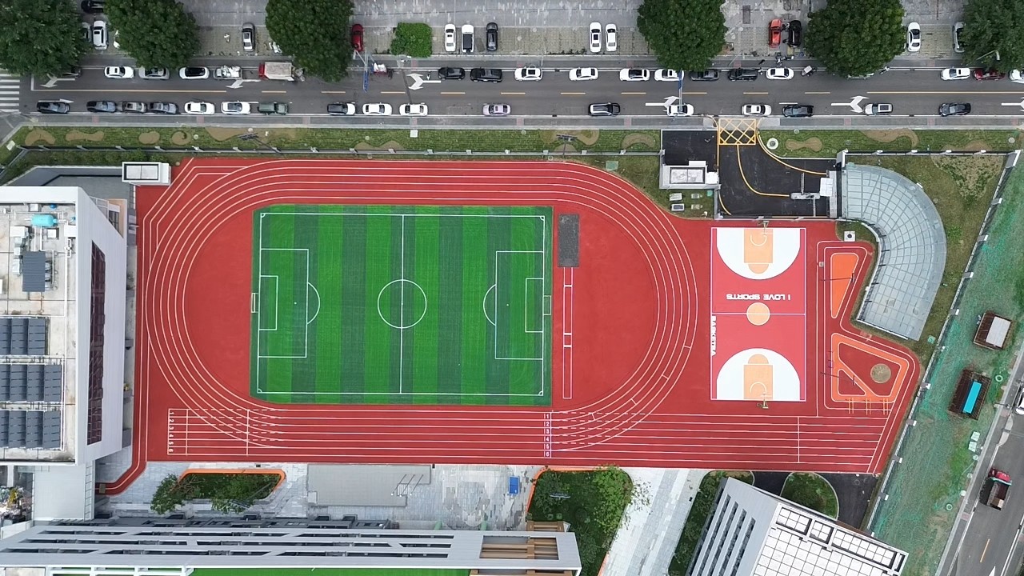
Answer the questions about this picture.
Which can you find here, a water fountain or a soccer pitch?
soccer pitch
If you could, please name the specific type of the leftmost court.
basketball court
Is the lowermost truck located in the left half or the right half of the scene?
right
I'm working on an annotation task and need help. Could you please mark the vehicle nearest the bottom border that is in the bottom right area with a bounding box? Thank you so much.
[981,465,1018,511]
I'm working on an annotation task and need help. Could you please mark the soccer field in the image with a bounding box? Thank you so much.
[251,205,553,406]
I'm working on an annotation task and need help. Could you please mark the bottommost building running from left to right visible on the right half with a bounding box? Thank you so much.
[683,478,908,576]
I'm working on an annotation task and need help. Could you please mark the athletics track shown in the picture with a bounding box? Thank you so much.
[95,158,921,495]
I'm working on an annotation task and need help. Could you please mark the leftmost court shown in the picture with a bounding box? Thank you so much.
[711,228,807,401]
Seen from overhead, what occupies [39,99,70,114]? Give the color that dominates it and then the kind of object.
black car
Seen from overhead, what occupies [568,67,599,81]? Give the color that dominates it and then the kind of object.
white car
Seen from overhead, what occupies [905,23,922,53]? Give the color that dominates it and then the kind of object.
white car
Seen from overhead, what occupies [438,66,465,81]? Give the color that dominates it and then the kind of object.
black car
